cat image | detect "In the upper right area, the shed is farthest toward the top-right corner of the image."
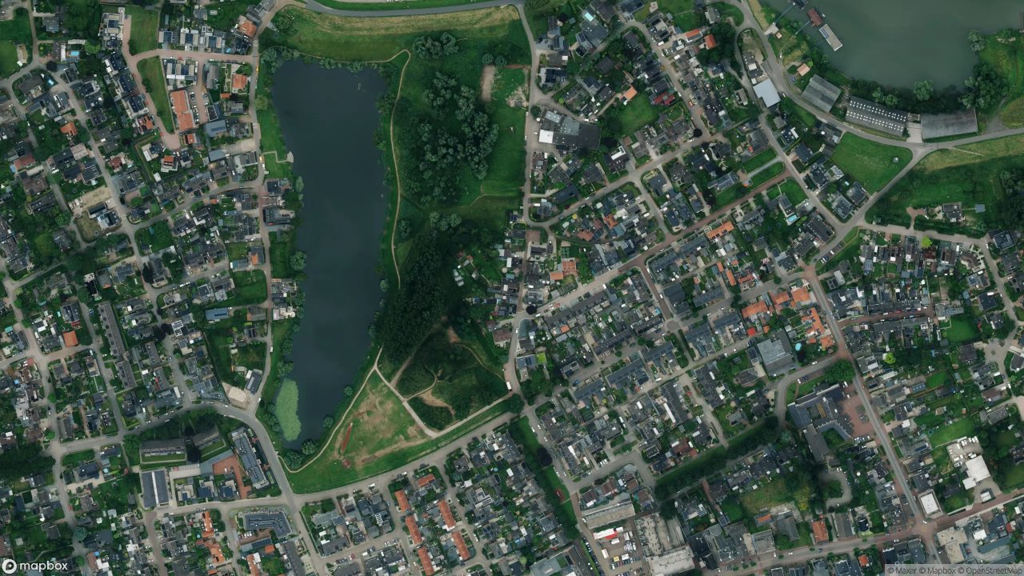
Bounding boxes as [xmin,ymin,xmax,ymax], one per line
[920,108,978,139]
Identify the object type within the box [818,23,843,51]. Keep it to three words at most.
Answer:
boat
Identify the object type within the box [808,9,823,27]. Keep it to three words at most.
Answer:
boat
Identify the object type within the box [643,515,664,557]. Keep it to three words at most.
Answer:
building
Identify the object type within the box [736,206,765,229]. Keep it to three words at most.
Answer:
house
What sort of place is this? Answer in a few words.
residential area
